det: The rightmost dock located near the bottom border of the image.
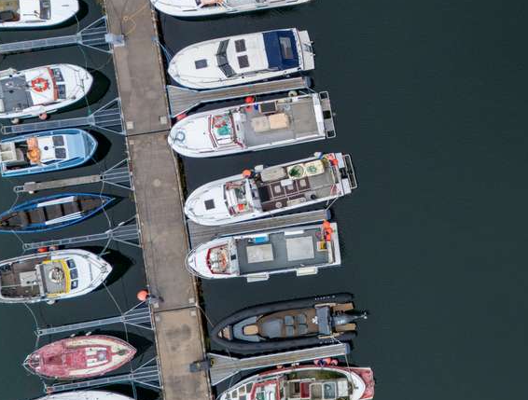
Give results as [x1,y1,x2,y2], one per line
[210,342,352,385]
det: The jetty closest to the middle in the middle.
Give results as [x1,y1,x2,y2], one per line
[188,209,333,249]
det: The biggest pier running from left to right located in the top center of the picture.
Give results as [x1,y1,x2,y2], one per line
[169,75,310,117]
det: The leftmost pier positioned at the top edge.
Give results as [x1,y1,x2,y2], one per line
[0,17,112,54]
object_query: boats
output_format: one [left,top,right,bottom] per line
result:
[183,223,344,282]
[213,292,367,350]
[165,91,337,156]
[151,0,307,17]
[0,68,95,119]
[0,0,81,30]
[219,365,375,400]
[0,250,115,306]
[183,153,357,222]
[0,129,99,176]
[0,191,117,233]
[165,27,316,87]
[20,333,138,380]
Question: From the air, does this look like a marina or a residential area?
marina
